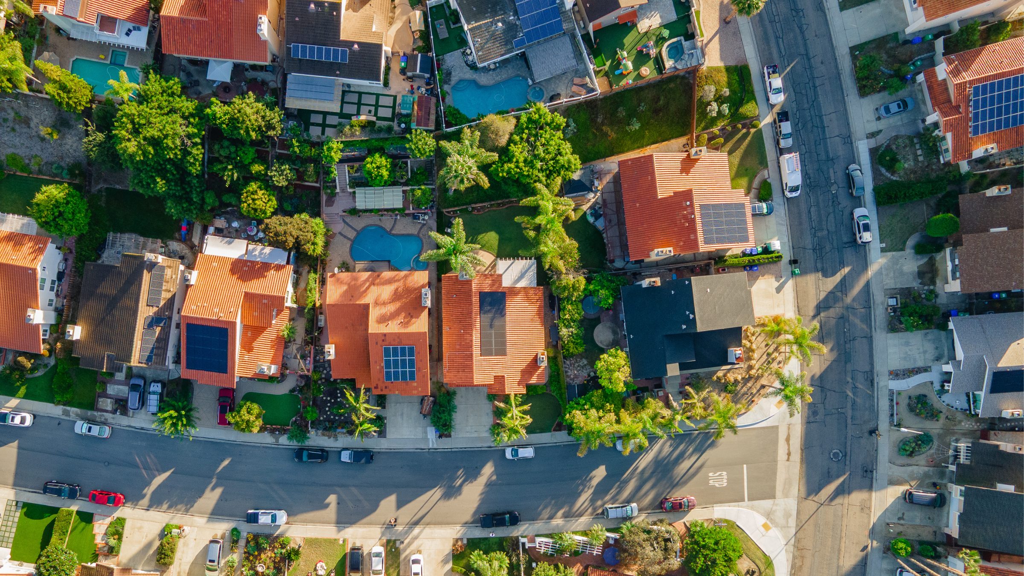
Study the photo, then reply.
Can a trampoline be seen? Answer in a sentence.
Yes, a trampoline appears in the view.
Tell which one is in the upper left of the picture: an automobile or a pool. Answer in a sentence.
Looking in the upper left of the picture, you will find a pool.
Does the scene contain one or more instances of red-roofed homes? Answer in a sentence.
Yes, there's a red-roofed home here.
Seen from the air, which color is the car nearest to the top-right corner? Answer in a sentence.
From above, the car nearest to the top-right corner appears blue.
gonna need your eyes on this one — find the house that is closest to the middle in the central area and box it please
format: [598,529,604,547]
[442,273,547,394]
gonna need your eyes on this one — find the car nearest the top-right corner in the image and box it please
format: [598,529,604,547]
[877,97,915,118]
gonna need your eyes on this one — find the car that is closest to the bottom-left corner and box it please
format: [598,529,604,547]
[42,480,82,499]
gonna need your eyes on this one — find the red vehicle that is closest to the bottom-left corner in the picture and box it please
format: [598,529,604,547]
[88,489,126,507]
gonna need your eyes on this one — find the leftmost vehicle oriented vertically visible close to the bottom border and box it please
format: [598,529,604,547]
[203,539,223,576]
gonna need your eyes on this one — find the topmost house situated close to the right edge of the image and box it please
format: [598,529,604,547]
[899,0,998,40]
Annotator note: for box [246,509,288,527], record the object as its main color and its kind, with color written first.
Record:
white vehicle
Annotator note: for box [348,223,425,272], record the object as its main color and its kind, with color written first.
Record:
blue swimming pool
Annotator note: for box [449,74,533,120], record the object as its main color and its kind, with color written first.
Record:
blue swimming pool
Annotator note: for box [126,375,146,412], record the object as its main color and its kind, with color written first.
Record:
blue car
